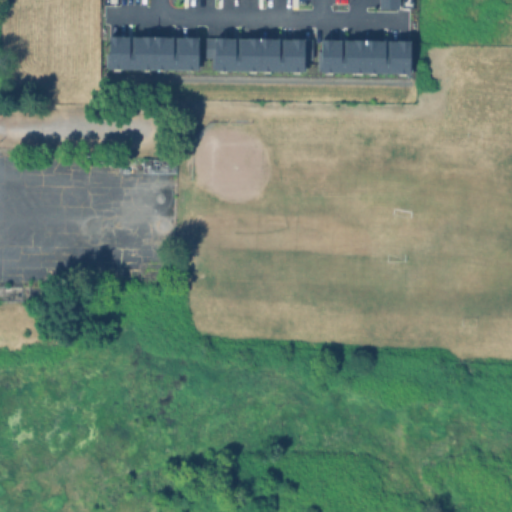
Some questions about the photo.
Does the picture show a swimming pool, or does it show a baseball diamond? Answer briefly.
baseball diamond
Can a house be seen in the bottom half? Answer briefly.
No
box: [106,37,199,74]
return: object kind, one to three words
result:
house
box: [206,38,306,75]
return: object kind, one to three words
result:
house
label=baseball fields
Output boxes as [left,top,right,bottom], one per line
[194,128,271,204]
